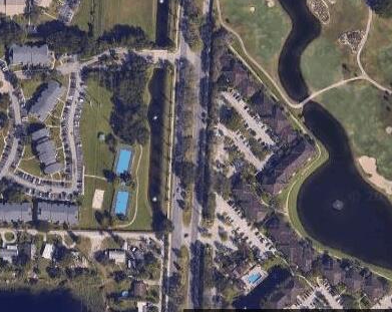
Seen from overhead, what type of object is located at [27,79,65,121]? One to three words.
building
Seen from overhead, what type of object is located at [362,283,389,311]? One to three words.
house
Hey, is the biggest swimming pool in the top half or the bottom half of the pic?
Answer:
bottom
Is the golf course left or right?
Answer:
right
